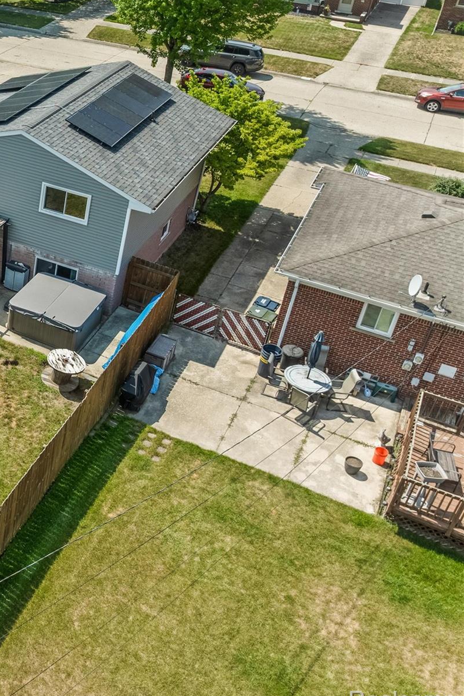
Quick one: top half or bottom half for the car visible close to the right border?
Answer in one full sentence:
Seen from above, the car visible close to the right border lies in the top half of the view.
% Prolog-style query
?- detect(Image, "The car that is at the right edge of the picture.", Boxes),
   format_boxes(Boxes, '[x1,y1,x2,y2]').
[417,78,464,113]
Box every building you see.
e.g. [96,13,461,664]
[262,0,381,23]
[269,167,464,395]
[436,0,464,28]
[0,59,241,314]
